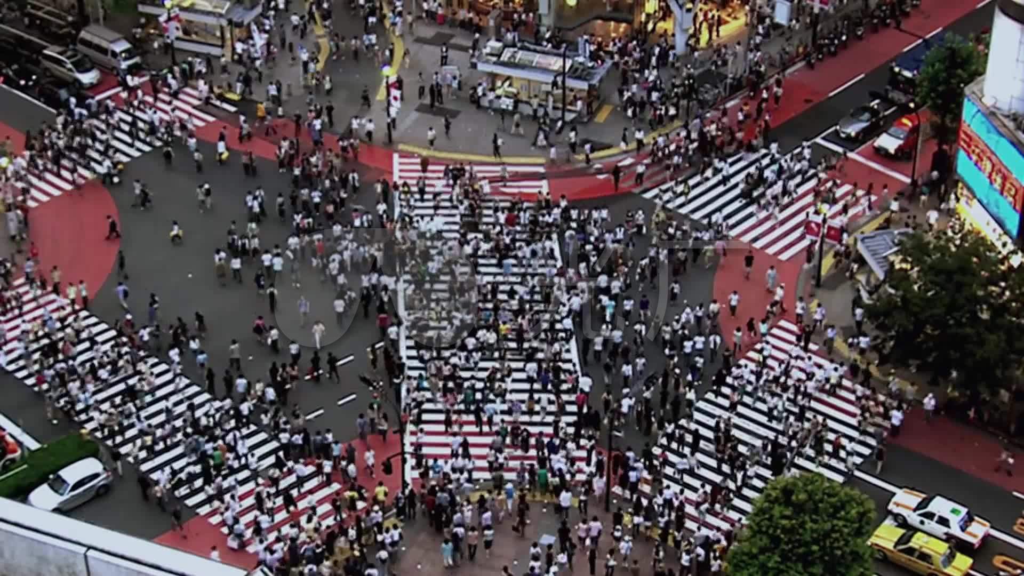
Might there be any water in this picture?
No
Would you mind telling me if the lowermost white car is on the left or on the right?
right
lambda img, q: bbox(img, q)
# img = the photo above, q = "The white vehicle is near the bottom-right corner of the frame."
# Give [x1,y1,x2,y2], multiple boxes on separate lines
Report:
[881,486,997,550]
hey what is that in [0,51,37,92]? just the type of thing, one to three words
car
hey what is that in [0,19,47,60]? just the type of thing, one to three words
car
